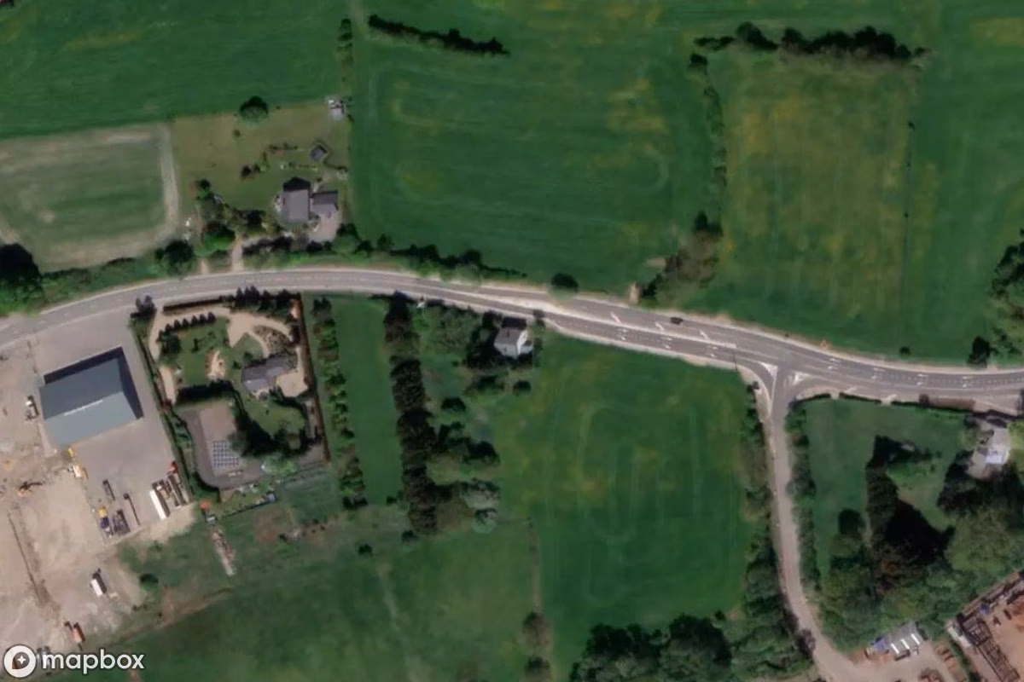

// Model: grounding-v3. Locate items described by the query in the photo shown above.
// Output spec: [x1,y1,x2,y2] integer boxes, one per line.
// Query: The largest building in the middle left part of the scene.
[37,358,144,447]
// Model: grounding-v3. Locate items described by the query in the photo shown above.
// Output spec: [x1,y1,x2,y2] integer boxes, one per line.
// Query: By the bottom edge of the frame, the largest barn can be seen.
[886,620,927,657]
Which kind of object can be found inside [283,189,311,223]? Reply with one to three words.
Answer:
house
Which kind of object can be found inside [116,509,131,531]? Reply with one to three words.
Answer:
vehicle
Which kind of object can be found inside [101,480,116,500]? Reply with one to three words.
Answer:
vehicle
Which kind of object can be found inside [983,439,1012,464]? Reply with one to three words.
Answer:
house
